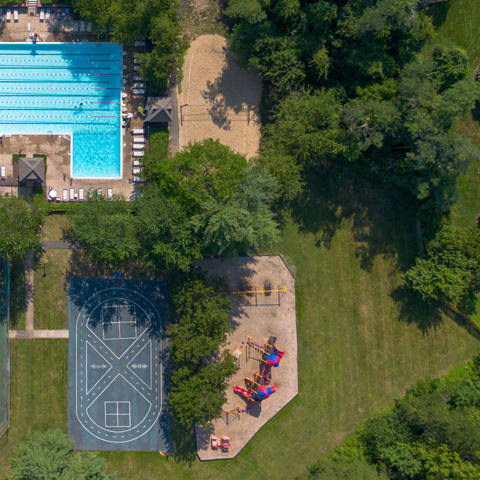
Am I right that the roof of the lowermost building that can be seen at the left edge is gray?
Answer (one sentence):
Yes, the roof of the lowermost building that can be seen at the left edge is indeed gray.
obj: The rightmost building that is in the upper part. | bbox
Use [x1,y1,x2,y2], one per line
[145,97,173,122]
